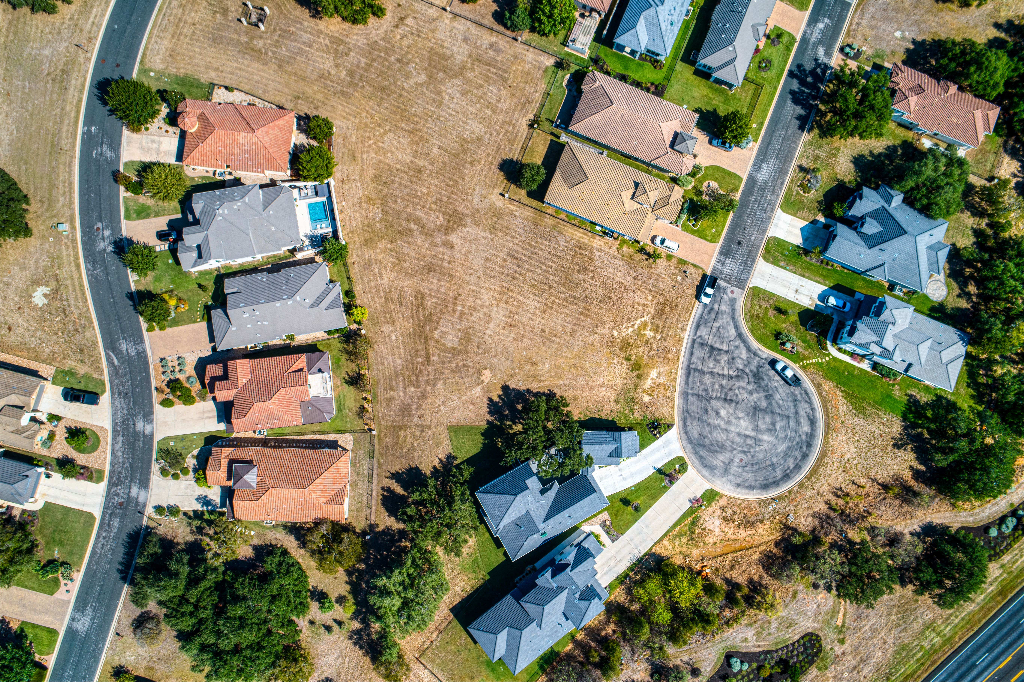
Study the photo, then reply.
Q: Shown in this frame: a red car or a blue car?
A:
blue car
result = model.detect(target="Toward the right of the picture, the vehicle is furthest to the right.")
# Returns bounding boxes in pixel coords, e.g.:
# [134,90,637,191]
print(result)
[823,295,852,312]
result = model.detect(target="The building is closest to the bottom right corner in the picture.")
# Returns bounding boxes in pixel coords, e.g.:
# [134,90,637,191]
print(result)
[845,294,972,392]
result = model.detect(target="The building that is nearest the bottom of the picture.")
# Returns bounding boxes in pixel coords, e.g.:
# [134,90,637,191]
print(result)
[467,533,610,676]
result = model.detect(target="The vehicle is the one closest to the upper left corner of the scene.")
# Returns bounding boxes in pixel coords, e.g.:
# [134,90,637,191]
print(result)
[156,229,178,241]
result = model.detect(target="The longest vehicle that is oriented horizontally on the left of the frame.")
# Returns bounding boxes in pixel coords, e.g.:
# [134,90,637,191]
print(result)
[61,388,102,406]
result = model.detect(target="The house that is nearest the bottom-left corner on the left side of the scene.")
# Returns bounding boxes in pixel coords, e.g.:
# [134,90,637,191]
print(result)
[0,454,50,505]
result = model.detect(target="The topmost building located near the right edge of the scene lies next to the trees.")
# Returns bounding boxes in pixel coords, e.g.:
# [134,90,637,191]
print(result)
[885,61,1001,150]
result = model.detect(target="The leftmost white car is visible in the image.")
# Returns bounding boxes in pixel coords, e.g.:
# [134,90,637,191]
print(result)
[652,235,681,253]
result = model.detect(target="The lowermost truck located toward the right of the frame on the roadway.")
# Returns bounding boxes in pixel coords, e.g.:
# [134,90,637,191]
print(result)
[771,359,803,388]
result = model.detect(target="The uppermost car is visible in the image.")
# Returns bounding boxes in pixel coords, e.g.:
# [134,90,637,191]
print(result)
[710,136,735,154]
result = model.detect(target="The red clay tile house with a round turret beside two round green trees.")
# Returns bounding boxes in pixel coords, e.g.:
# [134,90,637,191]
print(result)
[177,98,297,175]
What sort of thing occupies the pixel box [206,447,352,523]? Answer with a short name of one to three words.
house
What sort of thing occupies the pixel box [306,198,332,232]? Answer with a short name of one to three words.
swimming pool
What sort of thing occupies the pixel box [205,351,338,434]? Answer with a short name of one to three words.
house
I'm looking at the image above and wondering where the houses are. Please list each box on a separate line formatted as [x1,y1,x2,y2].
[544,141,685,244]
[697,0,776,89]
[205,351,338,434]
[569,70,700,176]
[845,294,972,392]
[475,430,640,562]
[885,61,1001,150]
[573,0,611,17]
[177,98,297,175]
[210,262,347,351]
[206,447,352,523]
[0,367,51,451]
[178,184,303,272]
[822,184,951,293]
[467,533,610,676]
[0,454,50,505]
[613,0,693,60]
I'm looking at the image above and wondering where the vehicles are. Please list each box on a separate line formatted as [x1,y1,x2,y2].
[771,359,803,388]
[710,136,735,154]
[156,229,178,241]
[61,388,102,406]
[823,295,852,312]
[652,235,681,253]
[698,273,720,305]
